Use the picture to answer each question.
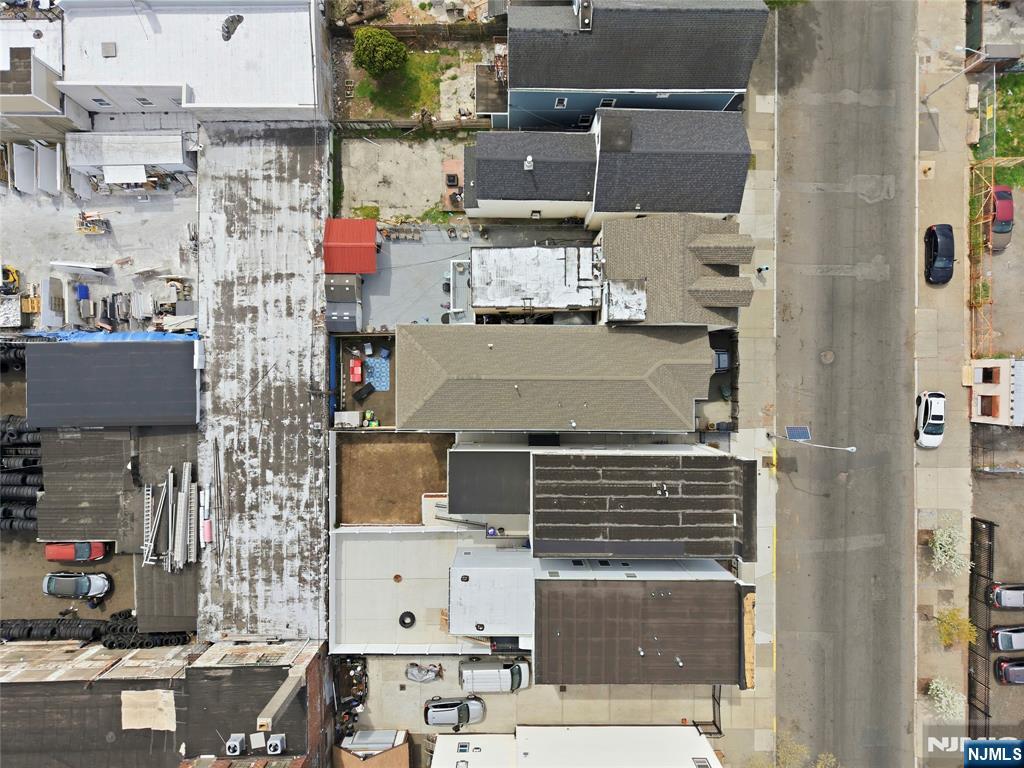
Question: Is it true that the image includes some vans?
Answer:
Yes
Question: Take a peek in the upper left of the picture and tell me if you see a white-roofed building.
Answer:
Yes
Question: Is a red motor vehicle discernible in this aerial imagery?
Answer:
Yes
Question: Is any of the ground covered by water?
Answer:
No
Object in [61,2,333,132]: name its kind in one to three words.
building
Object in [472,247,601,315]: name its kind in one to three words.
house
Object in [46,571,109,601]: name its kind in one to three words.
car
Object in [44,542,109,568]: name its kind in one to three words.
vehicle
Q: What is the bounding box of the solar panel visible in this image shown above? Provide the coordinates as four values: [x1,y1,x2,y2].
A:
[785,426,811,440]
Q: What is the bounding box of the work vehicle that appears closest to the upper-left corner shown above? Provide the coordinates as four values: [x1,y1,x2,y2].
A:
[71,205,117,236]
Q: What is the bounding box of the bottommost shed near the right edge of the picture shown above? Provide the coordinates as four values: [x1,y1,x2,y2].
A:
[964,356,1024,431]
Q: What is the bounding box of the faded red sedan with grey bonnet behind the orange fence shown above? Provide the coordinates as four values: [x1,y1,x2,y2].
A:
[984,188,1018,250]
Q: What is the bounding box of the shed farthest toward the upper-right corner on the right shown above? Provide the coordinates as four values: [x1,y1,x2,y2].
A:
[956,45,1021,72]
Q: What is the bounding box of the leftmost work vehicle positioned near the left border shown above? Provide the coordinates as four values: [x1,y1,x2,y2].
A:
[0,265,21,294]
